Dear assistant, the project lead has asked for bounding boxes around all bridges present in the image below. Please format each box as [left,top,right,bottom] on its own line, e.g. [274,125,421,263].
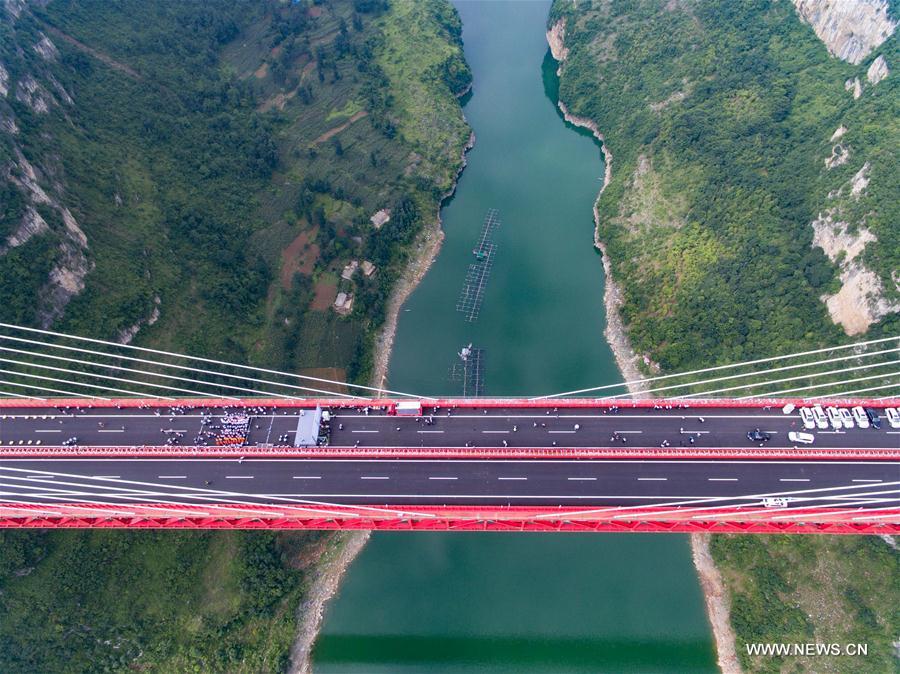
[0,323,900,533]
